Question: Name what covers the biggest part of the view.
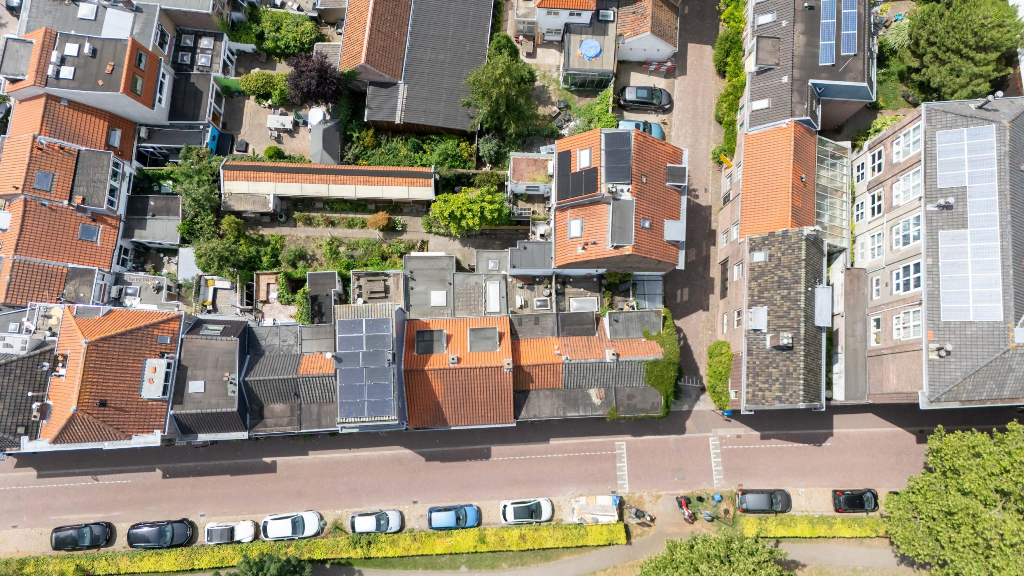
buildings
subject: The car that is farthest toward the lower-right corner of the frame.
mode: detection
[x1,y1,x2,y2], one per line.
[830,488,878,516]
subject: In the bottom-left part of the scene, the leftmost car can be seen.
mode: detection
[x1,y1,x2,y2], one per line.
[49,520,113,551]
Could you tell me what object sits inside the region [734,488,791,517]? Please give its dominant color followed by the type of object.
gray car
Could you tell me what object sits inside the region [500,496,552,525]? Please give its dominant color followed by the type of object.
white car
